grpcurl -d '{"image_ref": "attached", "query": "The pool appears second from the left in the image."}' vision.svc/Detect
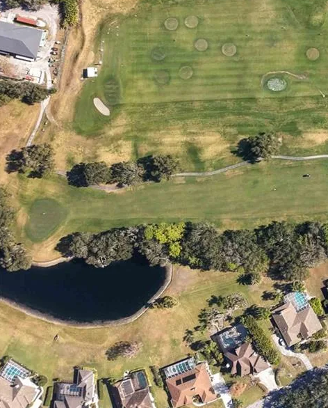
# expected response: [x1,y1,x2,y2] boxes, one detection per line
[165,358,195,378]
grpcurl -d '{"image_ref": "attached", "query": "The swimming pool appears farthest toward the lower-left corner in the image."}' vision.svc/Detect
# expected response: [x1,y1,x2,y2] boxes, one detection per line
[0,360,29,381]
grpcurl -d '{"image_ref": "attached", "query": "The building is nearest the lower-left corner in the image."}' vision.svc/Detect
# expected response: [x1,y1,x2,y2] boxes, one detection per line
[0,359,42,408]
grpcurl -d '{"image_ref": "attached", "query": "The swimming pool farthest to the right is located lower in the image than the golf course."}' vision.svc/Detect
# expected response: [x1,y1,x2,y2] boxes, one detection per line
[285,290,310,312]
